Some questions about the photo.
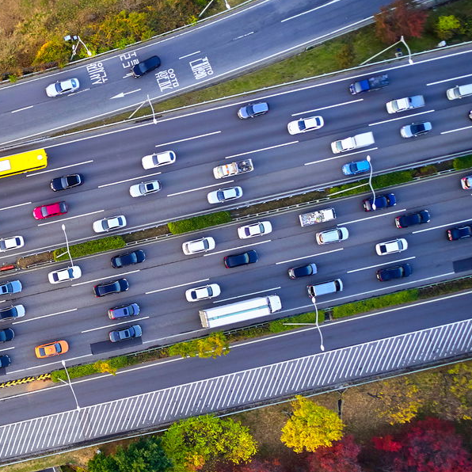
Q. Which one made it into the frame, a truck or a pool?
truck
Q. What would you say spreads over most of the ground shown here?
paved ground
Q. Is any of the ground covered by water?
No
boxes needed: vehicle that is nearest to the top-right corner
[444,83,472,101]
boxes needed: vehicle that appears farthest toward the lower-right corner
[376,263,409,281]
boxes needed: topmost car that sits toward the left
[130,56,163,77]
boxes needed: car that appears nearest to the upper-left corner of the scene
[47,77,79,97]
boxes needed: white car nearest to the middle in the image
[238,221,271,238]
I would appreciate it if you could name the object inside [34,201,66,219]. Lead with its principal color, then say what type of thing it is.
pink car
